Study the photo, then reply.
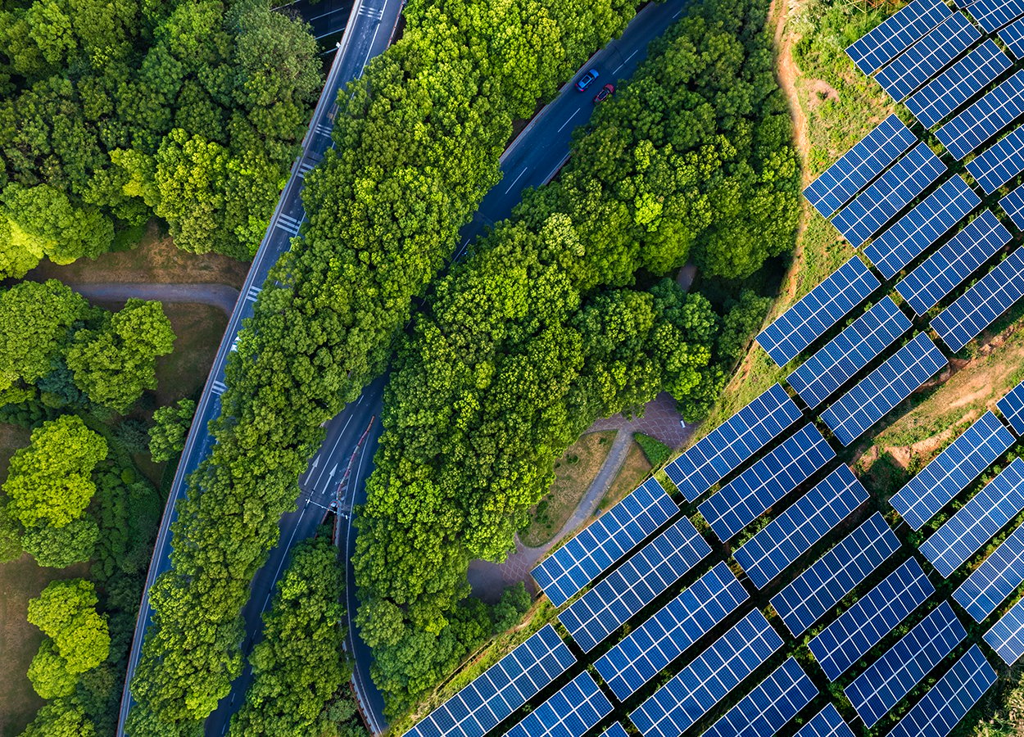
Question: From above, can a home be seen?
No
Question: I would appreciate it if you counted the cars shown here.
two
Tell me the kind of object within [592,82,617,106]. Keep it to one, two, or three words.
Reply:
car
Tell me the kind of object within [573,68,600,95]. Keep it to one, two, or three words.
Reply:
car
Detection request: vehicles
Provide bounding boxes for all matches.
[592,82,617,106]
[573,68,600,95]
